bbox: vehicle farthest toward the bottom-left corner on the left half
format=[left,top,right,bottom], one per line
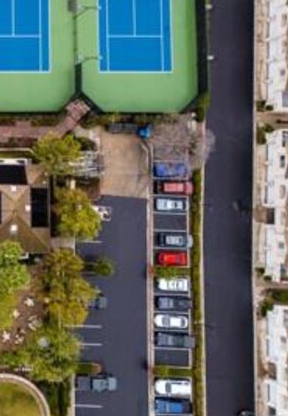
[78,376,117,394]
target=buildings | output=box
[260,312,288,416]
[0,164,51,255]
[260,129,288,279]
[260,0,288,107]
